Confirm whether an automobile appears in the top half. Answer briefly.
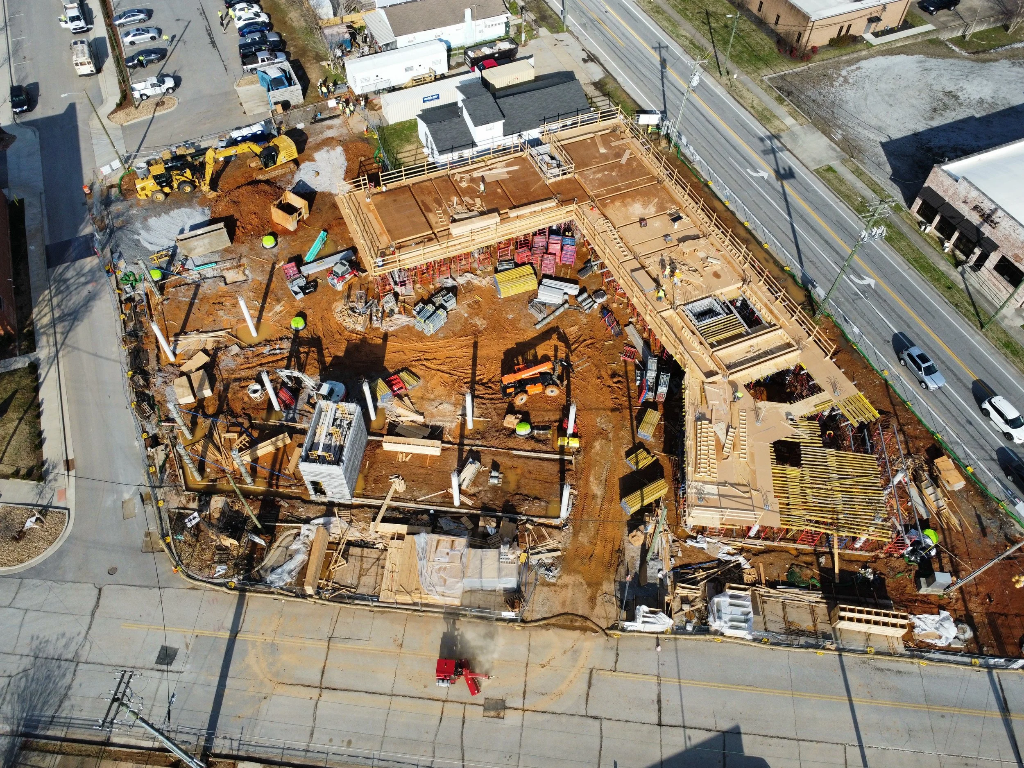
Yes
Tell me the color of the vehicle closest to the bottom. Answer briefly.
red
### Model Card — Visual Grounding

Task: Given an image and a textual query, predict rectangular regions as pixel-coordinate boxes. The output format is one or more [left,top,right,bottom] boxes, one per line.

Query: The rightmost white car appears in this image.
[975,398,1024,450]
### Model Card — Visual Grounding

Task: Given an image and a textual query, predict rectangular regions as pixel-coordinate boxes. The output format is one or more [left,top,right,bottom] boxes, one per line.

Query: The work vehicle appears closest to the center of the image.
[495,349,591,405]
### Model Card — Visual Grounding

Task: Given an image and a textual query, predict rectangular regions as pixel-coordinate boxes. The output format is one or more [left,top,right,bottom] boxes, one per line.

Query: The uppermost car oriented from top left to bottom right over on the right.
[894,344,949,390]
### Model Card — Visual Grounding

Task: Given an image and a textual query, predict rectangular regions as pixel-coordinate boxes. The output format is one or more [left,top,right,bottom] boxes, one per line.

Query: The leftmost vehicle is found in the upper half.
[8,83,31,111]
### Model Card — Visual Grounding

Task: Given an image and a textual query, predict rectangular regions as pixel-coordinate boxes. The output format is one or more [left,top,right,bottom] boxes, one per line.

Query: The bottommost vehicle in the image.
[428,655,494,697]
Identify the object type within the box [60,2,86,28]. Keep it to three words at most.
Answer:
truck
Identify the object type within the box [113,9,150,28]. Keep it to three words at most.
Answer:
car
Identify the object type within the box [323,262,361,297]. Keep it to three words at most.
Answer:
work vehicle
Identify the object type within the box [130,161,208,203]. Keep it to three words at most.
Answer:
work vehicle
